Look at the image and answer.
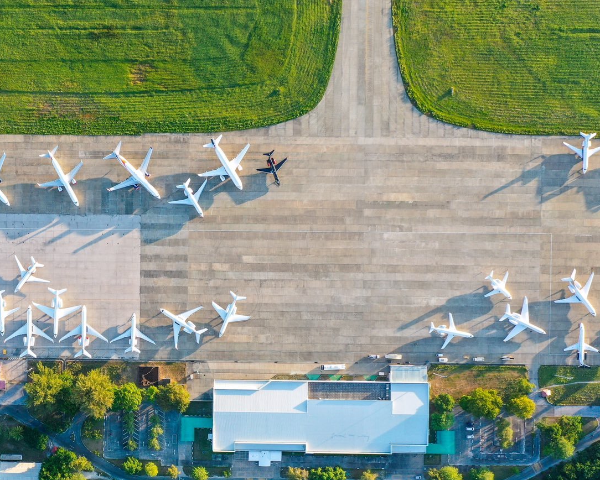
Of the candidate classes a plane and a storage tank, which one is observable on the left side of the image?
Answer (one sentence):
The one visible on the left side of the image is a plane.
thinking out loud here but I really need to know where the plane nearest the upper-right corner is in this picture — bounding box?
[562,131,600,174]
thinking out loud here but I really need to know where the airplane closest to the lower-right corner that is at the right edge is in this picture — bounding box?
[562,323,600,368]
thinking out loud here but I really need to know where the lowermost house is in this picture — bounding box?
[0,462,43,480]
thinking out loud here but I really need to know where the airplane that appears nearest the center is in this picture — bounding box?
[256,149,288,186]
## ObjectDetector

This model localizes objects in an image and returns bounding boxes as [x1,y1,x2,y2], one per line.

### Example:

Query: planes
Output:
[484,270,511,299]
[4,306,54,357]
[39,147,83,206]
[0,291,20,336]
[31,288,81,337]
[256,149,288,186]
[14,254,51,292]
[60,306,108,357]
[562,323,600,368]
[211,292,251,337]
[161,305,208,348]
[432,313,473,348]
[112,313,157,354]
[170,175,208,217]
[556,270,597,316]
[501,295,546,342]
[562,131,600,174]
[198,134,250,189]
[106,143,161,199]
